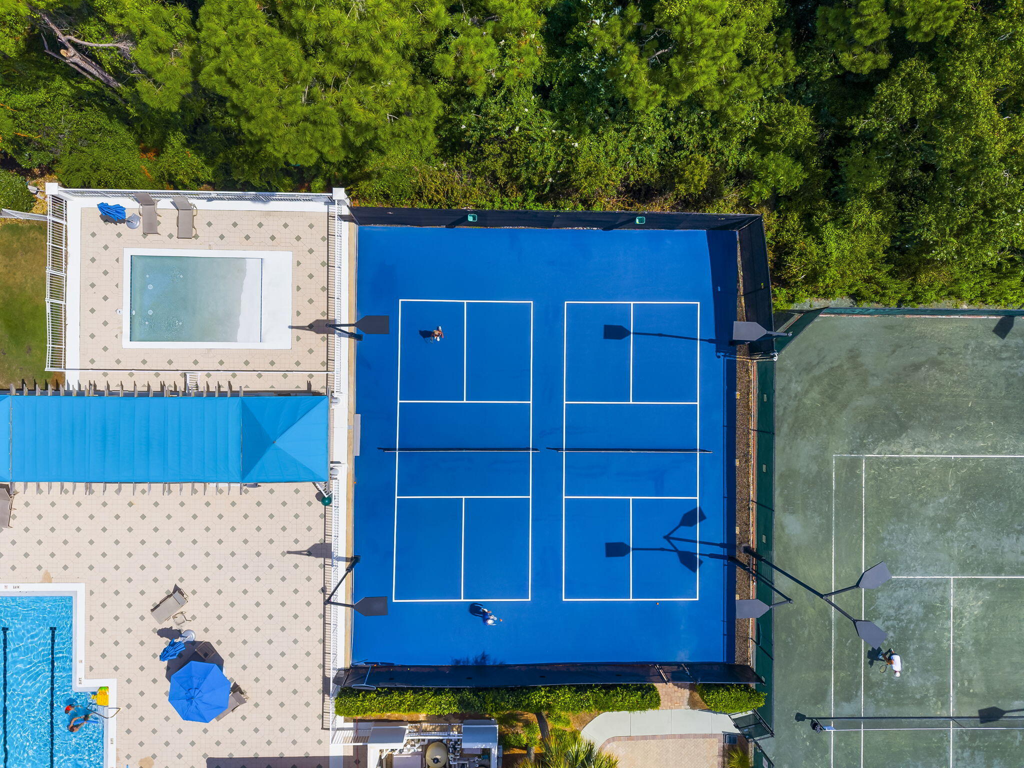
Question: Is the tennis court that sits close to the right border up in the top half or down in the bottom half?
bottom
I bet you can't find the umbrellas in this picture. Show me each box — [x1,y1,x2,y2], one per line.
[162,628,195,659]
[101,204,140,229]
[168,661,231,723]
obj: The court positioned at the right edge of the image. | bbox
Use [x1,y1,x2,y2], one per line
[754,297,1024,768]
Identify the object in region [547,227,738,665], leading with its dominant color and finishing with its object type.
blue sports court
